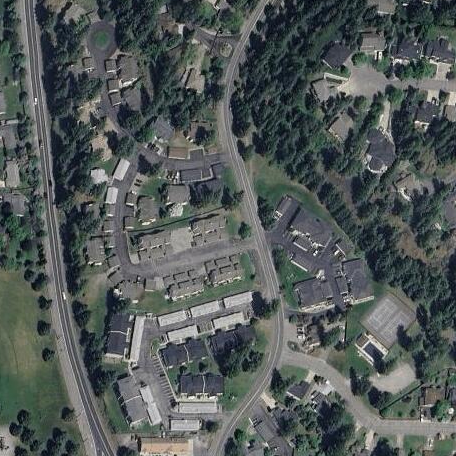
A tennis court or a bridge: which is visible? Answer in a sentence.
It is a tennis court that can be seen here.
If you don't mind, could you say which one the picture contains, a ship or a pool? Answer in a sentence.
Visible in the photo is a pool.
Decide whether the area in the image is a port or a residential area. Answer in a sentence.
This image shows a residential area.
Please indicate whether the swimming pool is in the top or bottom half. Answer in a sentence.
The swimming pool is in the bottom half of the image.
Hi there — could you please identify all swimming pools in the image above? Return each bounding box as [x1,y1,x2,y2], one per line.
[357,337,389,363]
